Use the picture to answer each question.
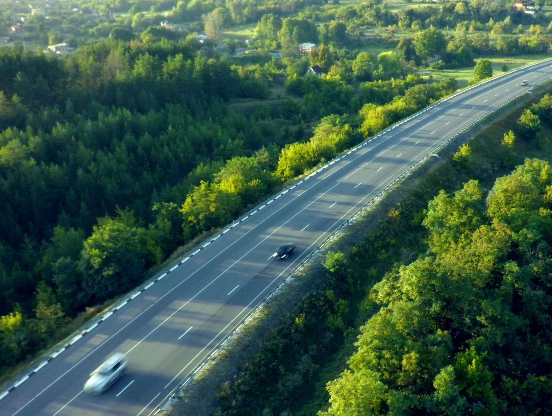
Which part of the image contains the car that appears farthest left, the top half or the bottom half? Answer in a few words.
bottom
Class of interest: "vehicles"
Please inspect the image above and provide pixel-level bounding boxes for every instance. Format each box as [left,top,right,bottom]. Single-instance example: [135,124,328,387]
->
[87,356,129,392]
[272,240,296,259]
[520,78,530,86]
